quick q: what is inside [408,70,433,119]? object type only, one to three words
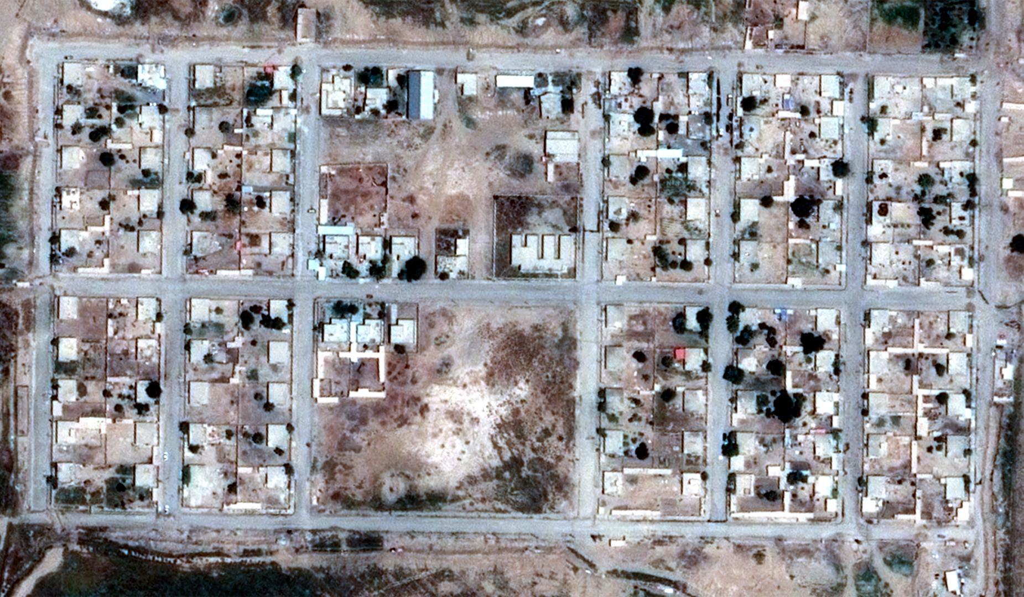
building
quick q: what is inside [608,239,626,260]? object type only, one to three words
house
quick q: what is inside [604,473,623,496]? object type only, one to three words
house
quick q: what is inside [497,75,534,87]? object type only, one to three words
shed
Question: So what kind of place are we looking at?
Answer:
residential area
